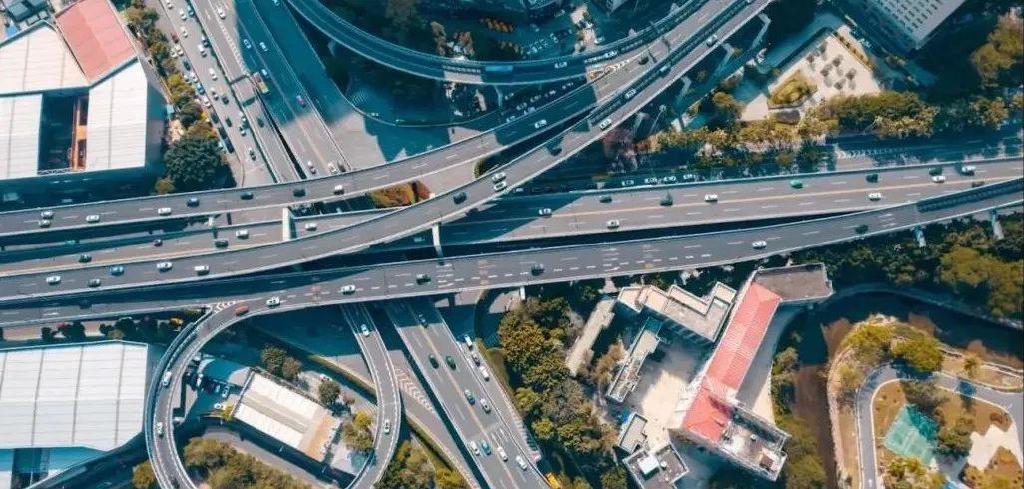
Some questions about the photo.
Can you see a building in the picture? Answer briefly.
Yes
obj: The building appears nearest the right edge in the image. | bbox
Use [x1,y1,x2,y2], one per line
[851,0,967,63]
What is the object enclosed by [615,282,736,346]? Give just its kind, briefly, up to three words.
building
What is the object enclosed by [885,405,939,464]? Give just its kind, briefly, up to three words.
sports court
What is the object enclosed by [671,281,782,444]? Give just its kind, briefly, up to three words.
building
